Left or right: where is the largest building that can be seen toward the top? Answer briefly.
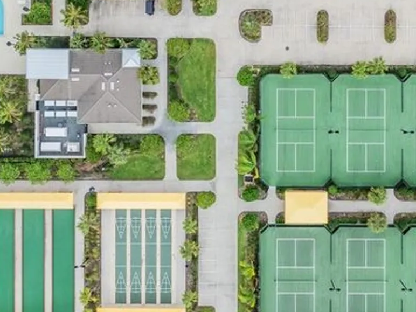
left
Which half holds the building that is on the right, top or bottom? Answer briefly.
bottom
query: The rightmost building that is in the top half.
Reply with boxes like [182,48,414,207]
[26,47,142,158]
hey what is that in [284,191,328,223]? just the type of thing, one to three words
building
